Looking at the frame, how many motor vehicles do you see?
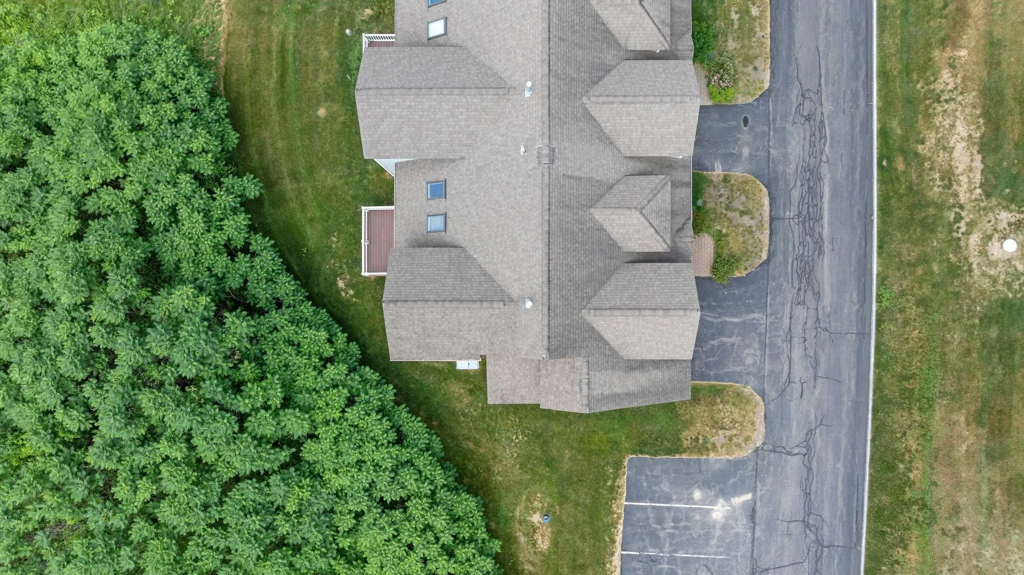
none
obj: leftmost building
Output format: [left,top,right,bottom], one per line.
[355,0,703,413]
